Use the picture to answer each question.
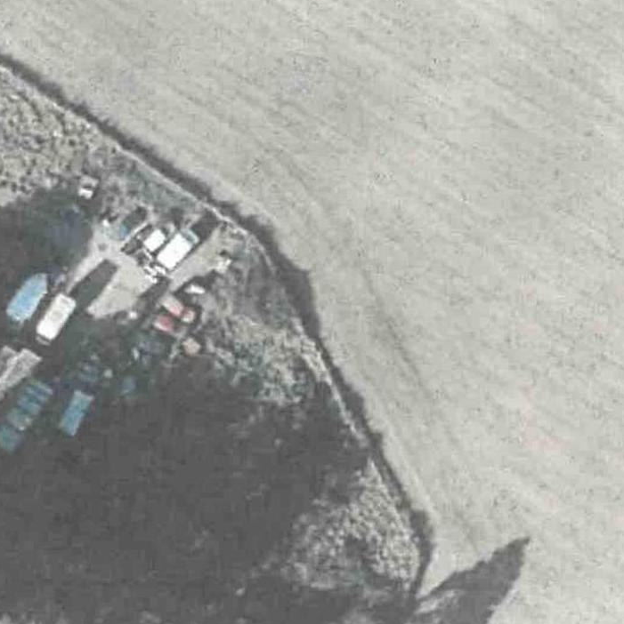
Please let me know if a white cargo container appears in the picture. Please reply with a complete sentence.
No, there is no white cargo container in the image.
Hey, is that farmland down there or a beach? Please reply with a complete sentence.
The area seen from above is farmland.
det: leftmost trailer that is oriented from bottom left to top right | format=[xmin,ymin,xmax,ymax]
[0,346,45,398]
